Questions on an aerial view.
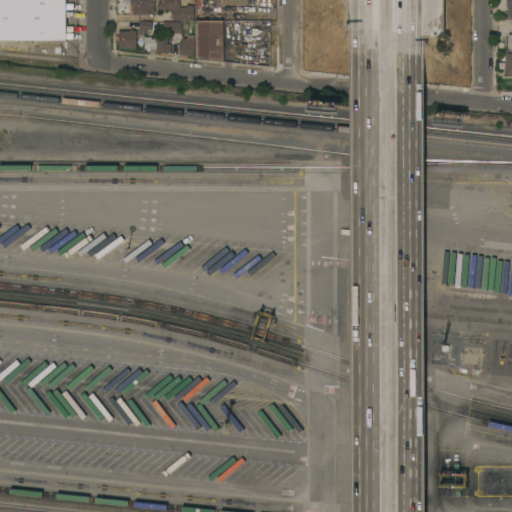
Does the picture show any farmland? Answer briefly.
No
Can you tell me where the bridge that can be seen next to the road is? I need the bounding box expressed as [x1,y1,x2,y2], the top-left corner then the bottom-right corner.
[350,0,424,512]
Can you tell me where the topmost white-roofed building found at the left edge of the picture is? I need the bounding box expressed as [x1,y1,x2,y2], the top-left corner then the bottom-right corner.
[0,0,68,42]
